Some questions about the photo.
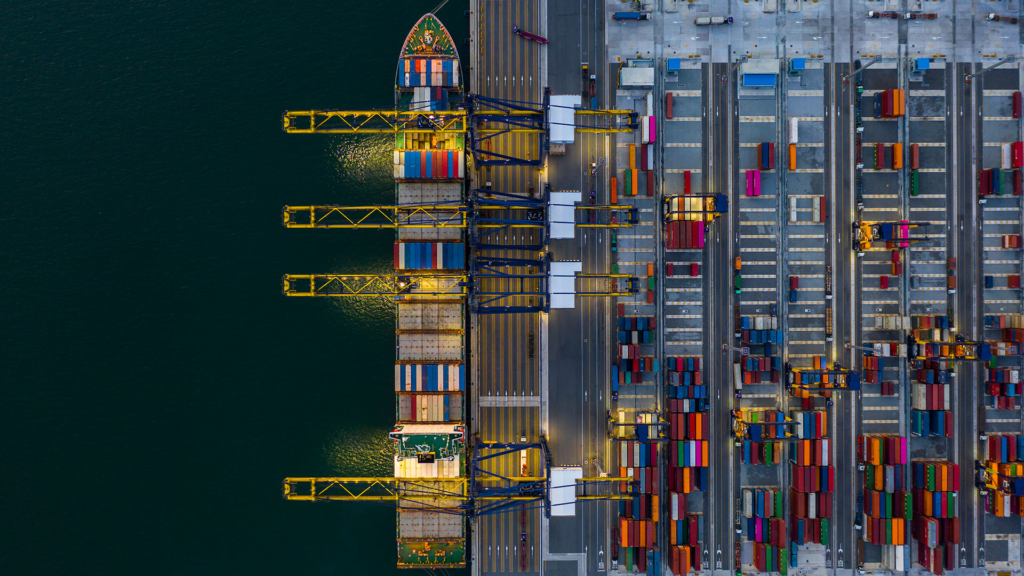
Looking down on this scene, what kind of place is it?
port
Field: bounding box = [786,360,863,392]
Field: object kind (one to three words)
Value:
crane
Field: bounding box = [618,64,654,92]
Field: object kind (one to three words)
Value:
building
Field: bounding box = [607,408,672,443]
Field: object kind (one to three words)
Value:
crane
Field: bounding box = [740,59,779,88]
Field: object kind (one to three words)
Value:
building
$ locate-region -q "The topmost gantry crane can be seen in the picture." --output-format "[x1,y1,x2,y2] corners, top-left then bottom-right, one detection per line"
[279,88,639,178]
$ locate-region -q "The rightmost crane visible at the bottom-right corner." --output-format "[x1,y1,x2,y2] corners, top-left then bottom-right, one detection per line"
[977,458,1024,496]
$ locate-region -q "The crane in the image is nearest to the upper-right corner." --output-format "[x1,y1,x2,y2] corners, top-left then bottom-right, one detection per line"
[853,219,934,251]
